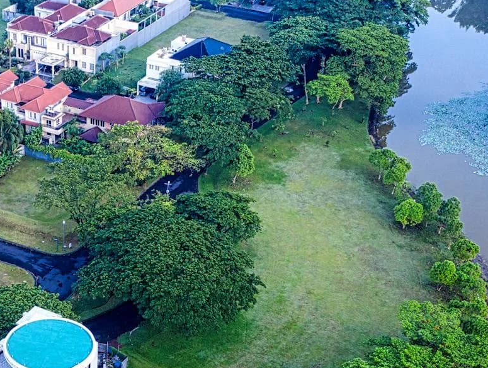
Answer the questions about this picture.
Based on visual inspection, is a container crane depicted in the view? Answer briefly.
No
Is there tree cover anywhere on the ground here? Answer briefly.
Yes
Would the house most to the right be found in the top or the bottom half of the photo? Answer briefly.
top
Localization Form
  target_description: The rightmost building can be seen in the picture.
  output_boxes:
[134,29,232,100]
